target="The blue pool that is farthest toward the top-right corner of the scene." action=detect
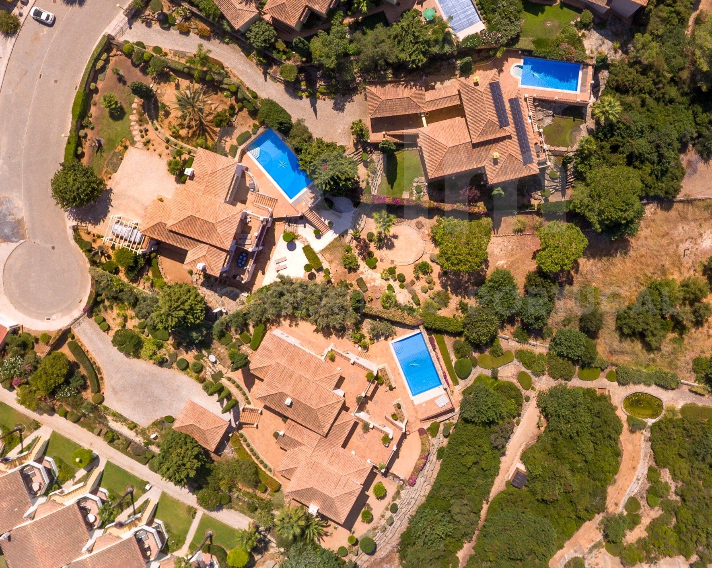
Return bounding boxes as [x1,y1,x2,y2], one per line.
[518,54,583,93]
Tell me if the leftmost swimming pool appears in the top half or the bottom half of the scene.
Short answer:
top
